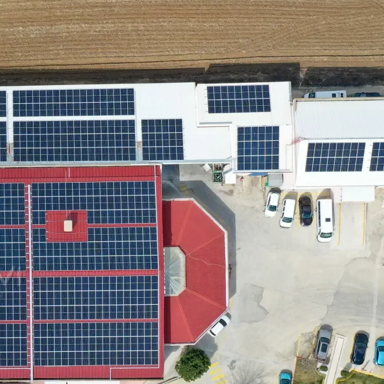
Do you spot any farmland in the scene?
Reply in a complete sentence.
Yes, there is farmland in the image.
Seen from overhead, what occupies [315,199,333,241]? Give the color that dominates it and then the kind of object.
white vehicle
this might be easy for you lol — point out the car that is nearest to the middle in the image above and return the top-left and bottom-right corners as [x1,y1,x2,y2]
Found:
[264,189,279,217]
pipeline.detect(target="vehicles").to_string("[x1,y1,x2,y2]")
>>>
[264,189,279,217]
[352,333,367,363]
[208,312,234,340]
[303,86,350,100]
[351,87,381,100]
[315,199,333,241]
[374,338,384,364]
[279,198,297,229]
[299,196,314,226]
[278,371,290,384]
[316,330,331,360]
